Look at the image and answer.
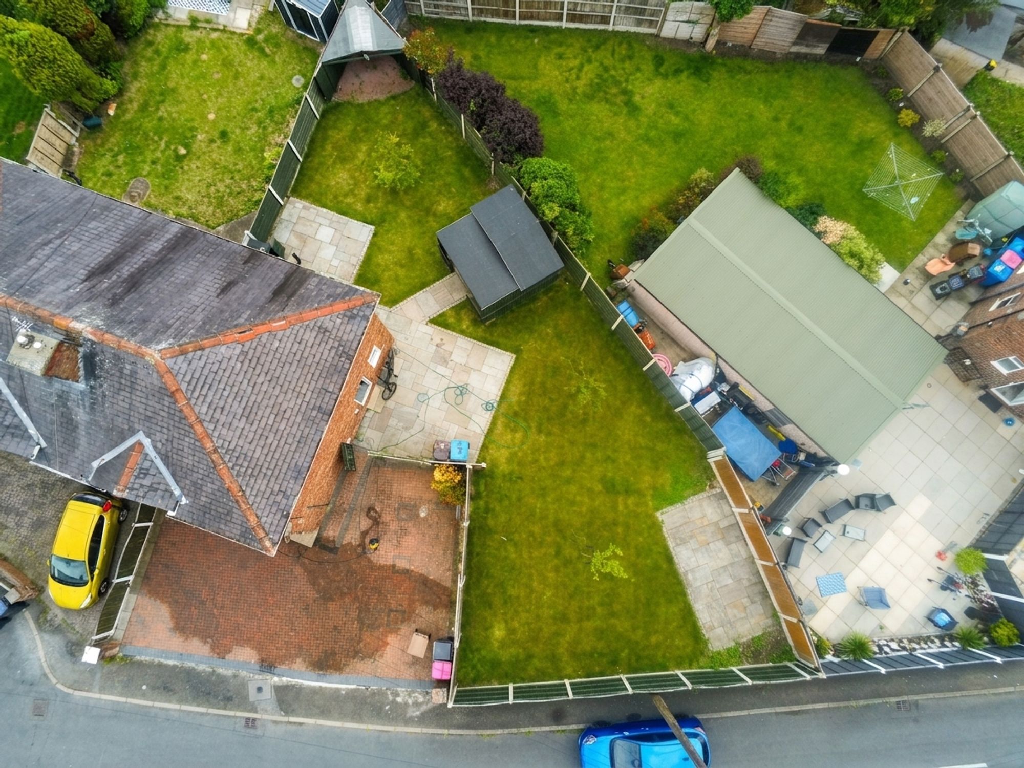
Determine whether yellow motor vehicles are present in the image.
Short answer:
Yes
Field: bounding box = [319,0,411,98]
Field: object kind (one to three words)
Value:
shed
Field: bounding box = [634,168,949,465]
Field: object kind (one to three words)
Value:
building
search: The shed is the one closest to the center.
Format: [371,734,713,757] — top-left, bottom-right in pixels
[436,187,562,320]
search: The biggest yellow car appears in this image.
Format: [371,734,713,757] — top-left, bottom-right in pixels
[48,493,127,606]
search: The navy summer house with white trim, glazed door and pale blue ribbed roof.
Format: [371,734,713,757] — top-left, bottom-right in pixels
[272,0,339,44]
